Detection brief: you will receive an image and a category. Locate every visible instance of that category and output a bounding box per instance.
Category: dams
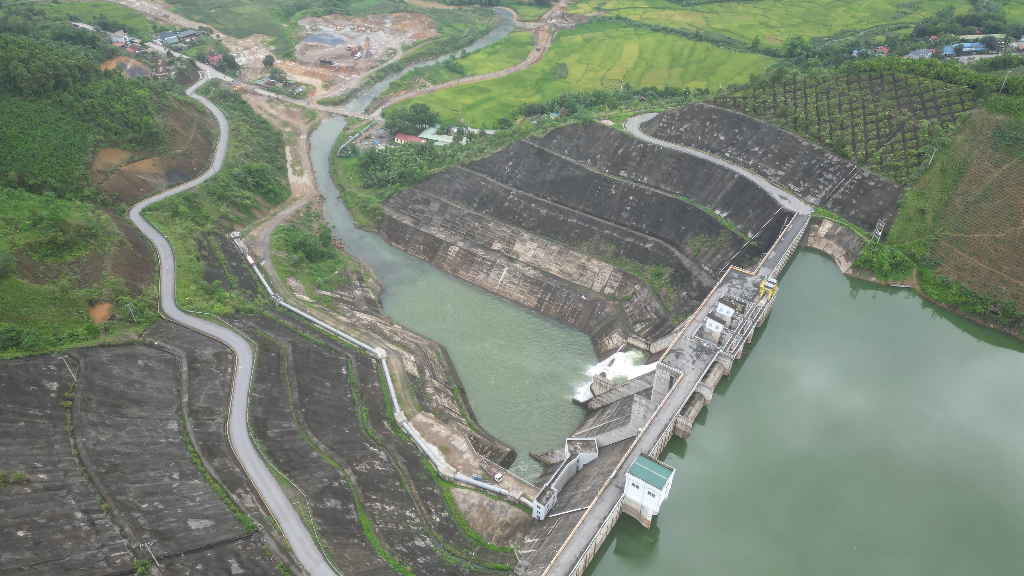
[509,207,812,576]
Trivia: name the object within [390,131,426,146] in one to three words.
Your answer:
house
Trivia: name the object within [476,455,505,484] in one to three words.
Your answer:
truck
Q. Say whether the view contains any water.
Yes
